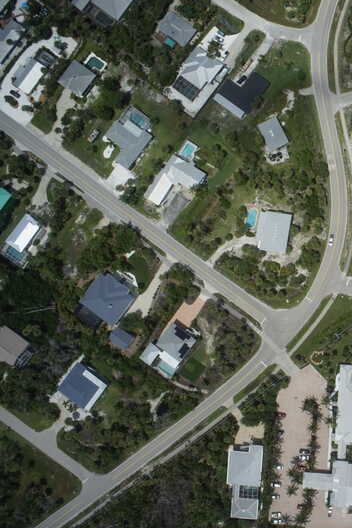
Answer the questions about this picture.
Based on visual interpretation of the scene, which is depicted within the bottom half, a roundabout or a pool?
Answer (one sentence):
It is a pool that can be seen within the bottom half.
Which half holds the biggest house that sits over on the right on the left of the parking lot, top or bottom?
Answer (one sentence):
The bottom half of the photo is where the biggest house that sits over on the right on the left of the parking lot is.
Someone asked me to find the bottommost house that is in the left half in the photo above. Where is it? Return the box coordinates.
[58,354,109,411]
